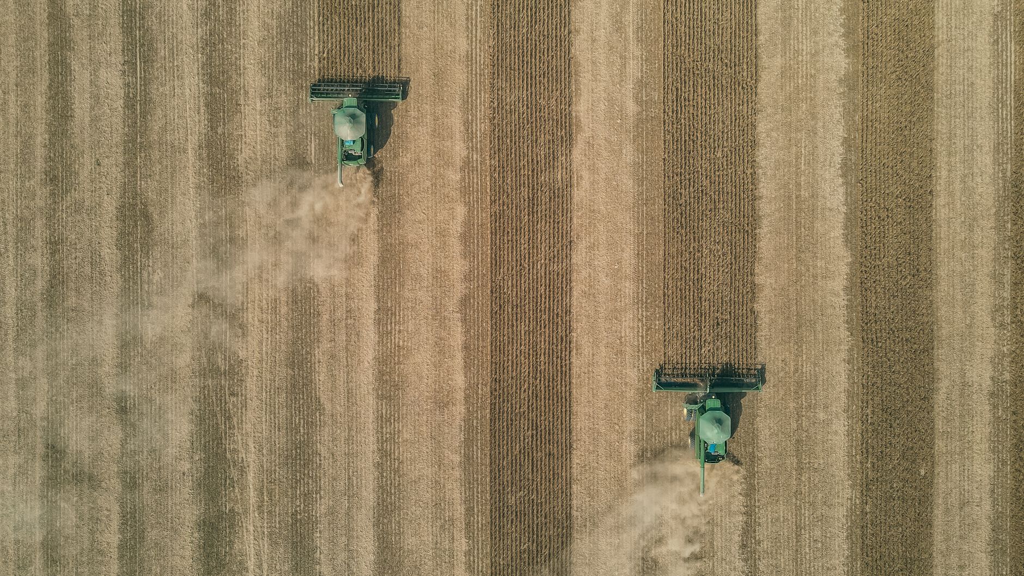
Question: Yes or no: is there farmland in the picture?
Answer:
Yes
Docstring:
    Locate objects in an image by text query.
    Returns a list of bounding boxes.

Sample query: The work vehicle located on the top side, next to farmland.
[308,83,406,188]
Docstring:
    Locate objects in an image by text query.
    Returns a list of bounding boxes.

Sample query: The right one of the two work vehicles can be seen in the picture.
[651,370,764,498]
